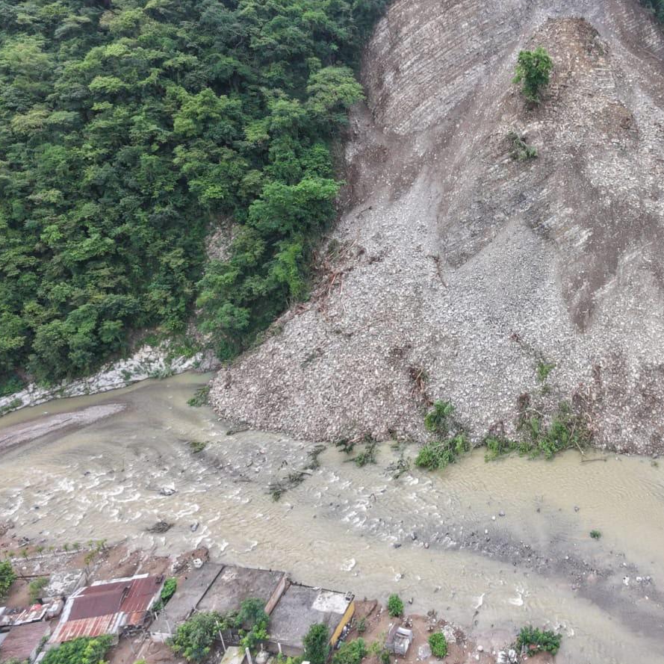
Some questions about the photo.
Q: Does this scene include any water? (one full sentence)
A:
Yes, the picture does contain water.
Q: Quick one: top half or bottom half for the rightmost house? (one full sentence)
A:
The rightmost house sits in the bottom half of the picture.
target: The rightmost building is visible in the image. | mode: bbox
[271,582,355,658]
